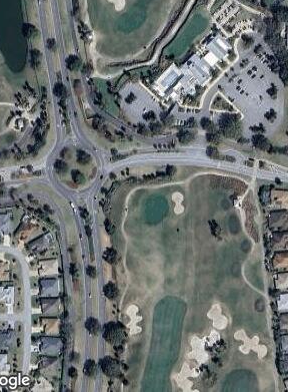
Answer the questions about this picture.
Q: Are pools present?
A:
No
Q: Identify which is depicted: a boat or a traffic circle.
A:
traffic circle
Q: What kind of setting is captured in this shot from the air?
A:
golf course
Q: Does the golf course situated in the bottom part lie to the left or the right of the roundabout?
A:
right of it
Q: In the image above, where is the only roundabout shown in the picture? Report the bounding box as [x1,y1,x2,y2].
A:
[46,137,107,198]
